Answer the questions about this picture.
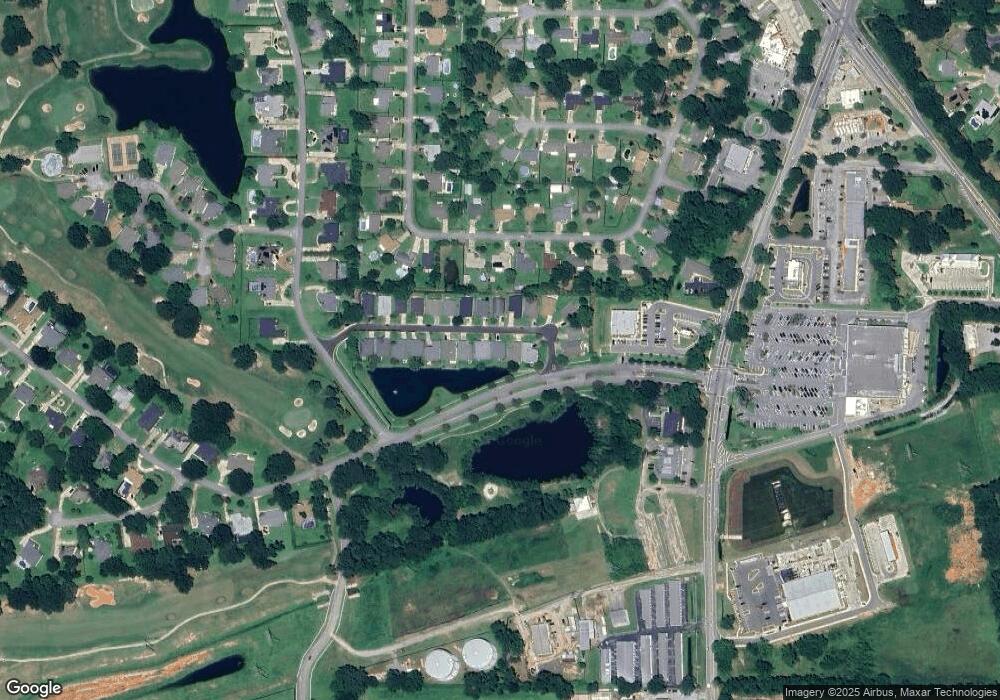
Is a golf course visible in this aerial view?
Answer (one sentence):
Yes, the photo shows a golf course.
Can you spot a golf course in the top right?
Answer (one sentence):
No, looking in the top right, there is no golf course.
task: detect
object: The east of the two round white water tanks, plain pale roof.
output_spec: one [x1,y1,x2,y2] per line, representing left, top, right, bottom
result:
[462,638,499,672]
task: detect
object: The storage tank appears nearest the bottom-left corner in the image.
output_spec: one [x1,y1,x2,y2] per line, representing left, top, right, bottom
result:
[423,650,458,682]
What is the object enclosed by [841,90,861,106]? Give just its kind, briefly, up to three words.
building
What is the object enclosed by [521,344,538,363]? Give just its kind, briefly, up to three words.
house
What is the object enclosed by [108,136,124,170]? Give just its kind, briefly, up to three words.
tennis court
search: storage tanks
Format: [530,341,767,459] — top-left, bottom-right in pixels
[423,650,458,682]
[462,638,499,672]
